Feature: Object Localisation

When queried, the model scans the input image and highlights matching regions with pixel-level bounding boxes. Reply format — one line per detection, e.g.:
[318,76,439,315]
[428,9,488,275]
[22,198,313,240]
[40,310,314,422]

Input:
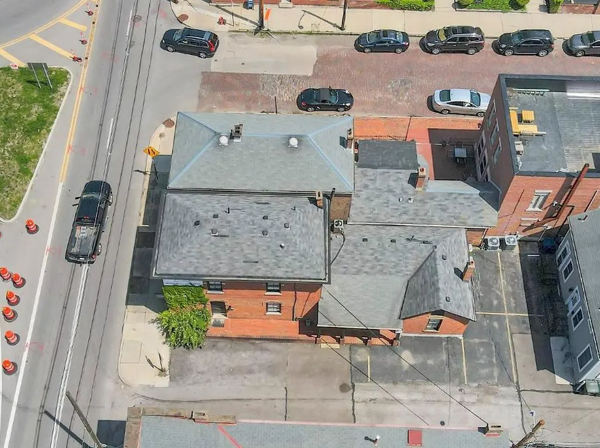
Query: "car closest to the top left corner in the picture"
[159,26,221,59]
